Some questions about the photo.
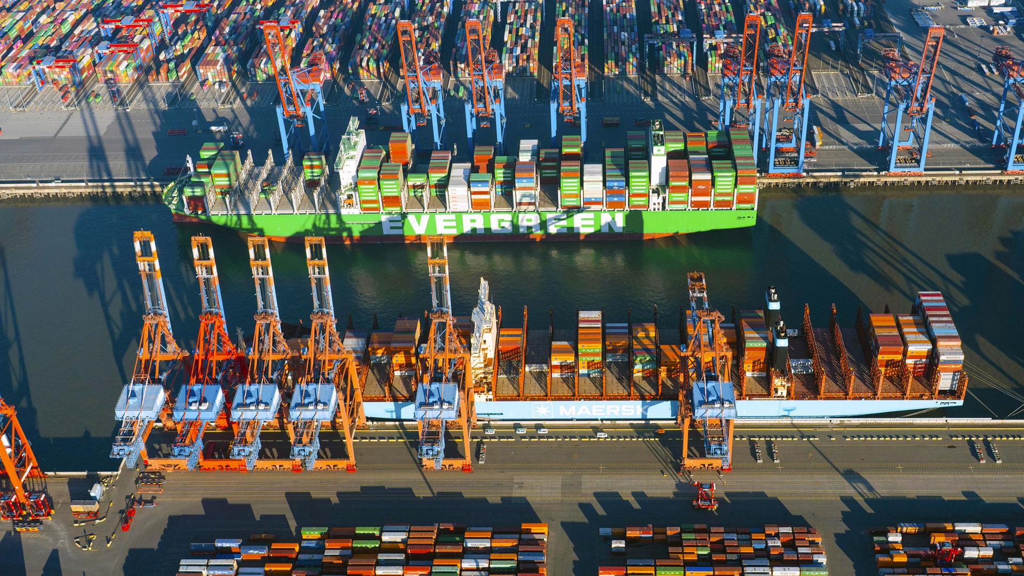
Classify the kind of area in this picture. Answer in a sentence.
The picture captures a port.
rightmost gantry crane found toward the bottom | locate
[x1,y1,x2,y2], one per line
[672,271,741,474]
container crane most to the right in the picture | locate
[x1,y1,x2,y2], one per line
[988,45,1024,170]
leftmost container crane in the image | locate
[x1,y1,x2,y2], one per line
[0,392,43,529]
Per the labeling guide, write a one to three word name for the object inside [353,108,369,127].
work vehicle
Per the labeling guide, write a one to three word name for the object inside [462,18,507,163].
container crane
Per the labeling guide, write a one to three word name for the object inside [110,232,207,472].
container crane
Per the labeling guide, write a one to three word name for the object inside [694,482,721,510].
work vehicle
